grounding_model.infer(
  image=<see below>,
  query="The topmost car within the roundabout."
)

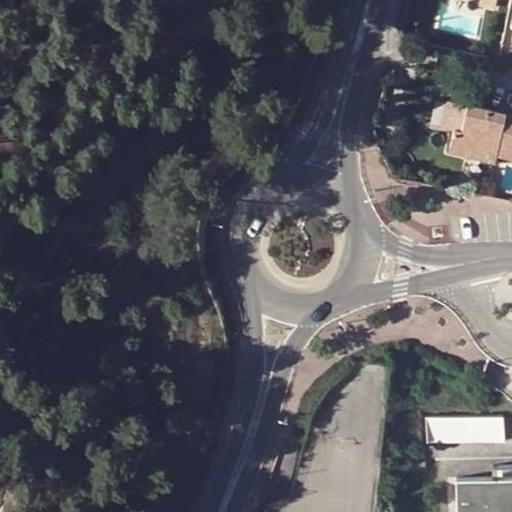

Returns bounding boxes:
[246,218,264,238]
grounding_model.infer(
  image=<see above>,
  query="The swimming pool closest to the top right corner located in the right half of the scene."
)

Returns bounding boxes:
[438,13,484,40]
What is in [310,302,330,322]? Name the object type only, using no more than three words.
car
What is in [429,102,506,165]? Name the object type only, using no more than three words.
house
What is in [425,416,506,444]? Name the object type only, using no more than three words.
building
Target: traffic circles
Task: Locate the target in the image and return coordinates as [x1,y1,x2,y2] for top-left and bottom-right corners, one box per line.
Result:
[231,179,373,321]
